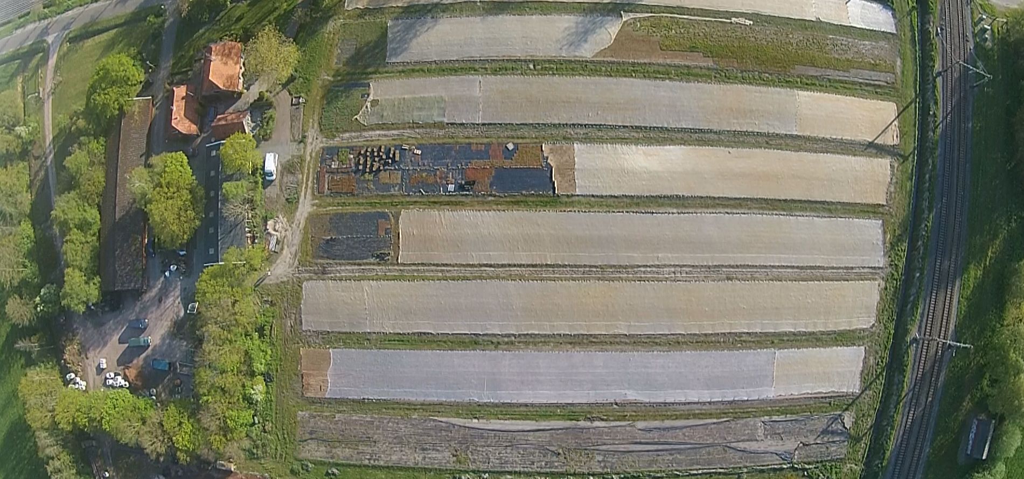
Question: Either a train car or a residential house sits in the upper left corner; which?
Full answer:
You can see a residential house in the upper left corner.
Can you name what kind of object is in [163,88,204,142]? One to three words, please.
house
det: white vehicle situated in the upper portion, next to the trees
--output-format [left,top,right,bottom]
[263,150,278,179]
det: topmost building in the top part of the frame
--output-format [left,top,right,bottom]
[198,46,247,102]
